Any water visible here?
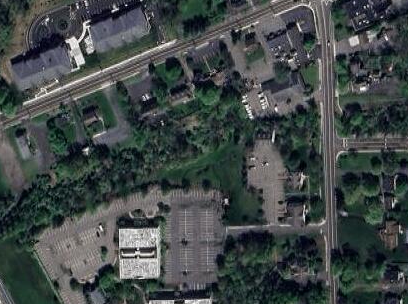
No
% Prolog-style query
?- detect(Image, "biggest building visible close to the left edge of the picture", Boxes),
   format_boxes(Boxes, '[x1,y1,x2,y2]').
[10,45,72,90]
